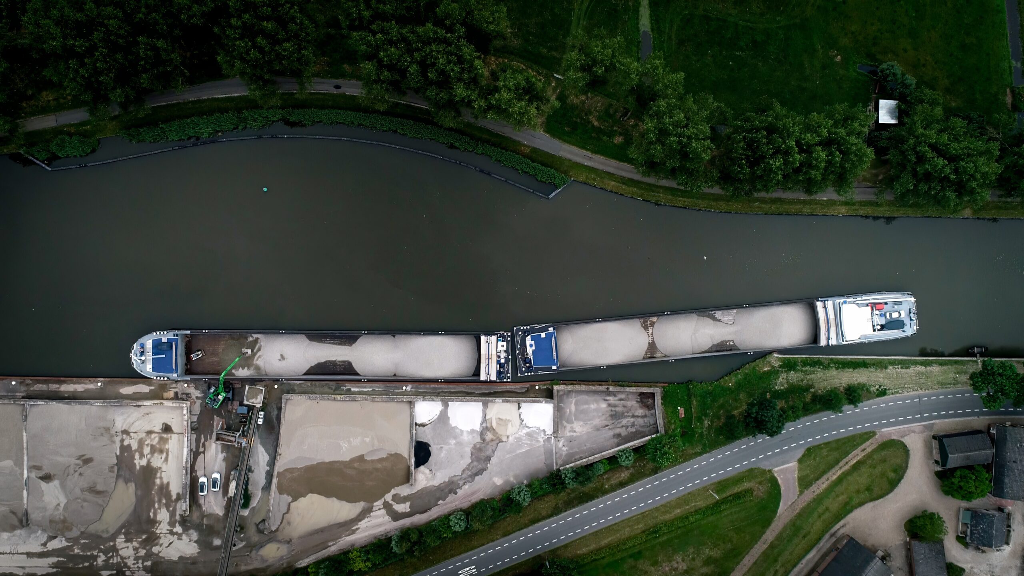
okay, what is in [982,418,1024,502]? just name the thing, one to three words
barn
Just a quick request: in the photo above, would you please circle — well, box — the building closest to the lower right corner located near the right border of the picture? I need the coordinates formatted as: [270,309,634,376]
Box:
[955,506,1013,549]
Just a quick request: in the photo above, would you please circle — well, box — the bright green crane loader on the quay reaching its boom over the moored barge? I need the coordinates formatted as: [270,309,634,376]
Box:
[205,348,255,410]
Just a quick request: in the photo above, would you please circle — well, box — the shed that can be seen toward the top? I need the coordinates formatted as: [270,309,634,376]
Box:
[873,100,898,125]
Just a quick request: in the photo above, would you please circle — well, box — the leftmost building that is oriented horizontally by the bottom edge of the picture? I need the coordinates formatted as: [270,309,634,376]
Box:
[811,535,900,576]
